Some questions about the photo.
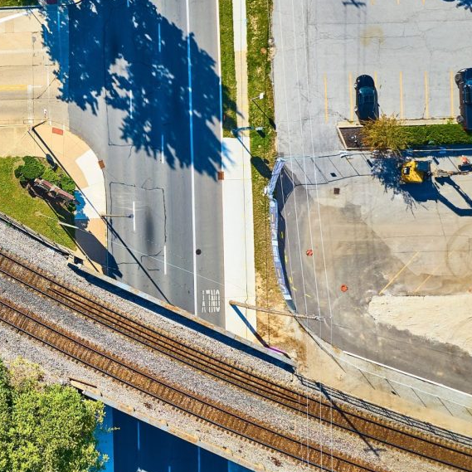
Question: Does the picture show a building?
No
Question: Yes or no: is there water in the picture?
No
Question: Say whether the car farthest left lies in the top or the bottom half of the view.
top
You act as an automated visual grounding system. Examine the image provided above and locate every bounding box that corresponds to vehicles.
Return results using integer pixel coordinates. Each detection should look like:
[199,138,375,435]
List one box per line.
[400,161,472,184]
[455,71,472,129]
[355,75,378,122]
